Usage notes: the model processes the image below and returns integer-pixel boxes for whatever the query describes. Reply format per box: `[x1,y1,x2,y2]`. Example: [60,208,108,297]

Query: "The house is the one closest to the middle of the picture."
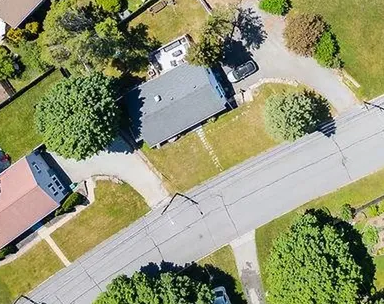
[127,38,230,146]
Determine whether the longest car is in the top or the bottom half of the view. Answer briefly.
top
